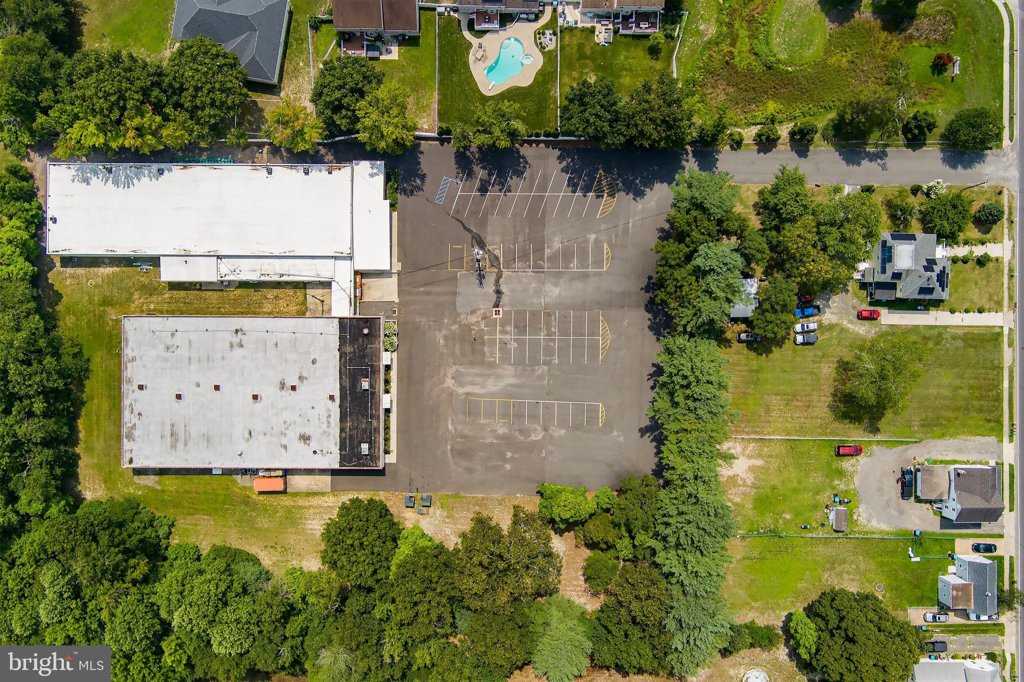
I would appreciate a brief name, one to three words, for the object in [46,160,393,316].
building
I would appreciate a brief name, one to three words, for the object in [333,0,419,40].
house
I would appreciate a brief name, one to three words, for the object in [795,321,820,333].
vehicle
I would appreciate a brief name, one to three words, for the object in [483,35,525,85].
swimming pool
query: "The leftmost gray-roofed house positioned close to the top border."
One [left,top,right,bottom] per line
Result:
[172,0,292,85]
